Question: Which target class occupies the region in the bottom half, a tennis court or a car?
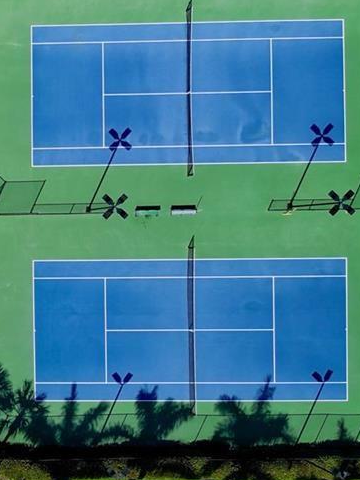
tennis court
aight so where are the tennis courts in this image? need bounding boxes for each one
[31,19,346,167]
[33,257,348,401]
